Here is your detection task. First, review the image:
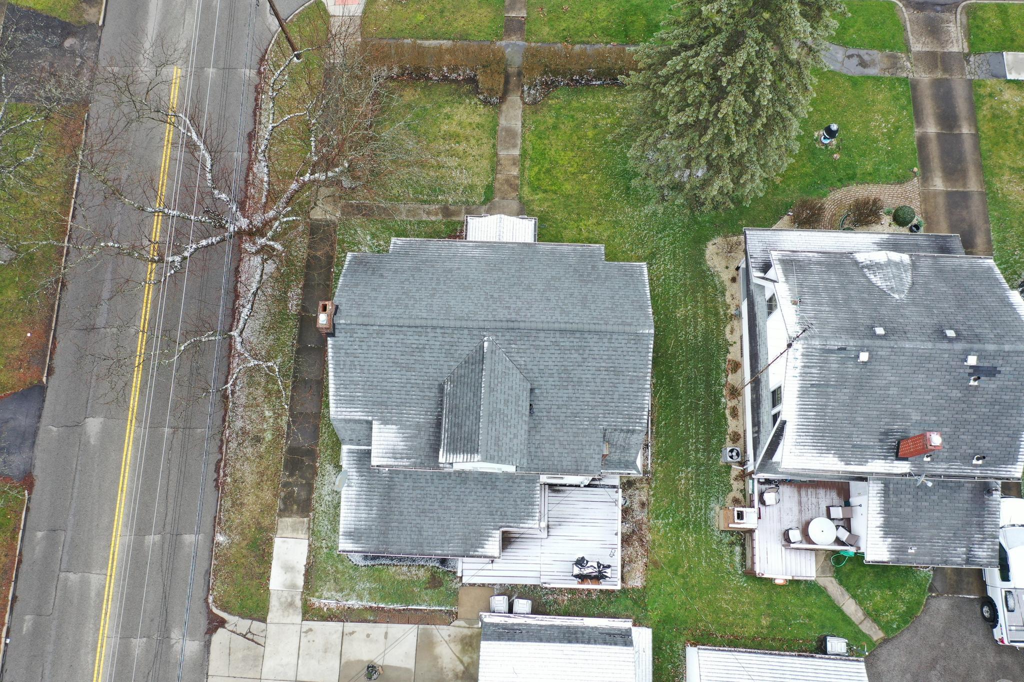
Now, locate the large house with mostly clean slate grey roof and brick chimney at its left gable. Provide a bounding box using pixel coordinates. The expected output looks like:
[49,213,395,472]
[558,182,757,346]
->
[313,211,654,564]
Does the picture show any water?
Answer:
No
